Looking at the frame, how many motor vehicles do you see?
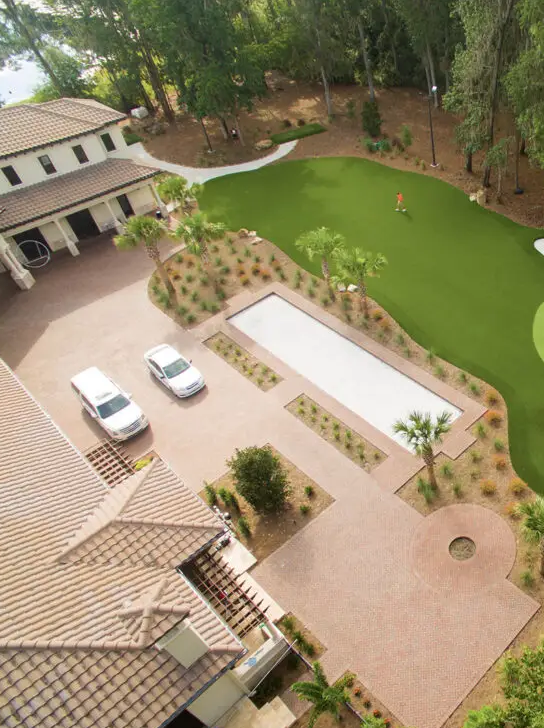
2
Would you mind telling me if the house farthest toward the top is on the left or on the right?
left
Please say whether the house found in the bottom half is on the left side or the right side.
left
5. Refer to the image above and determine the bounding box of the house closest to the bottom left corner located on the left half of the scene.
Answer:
[0,359,255,728]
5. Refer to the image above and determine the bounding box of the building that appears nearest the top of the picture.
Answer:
[0,95,173,269]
